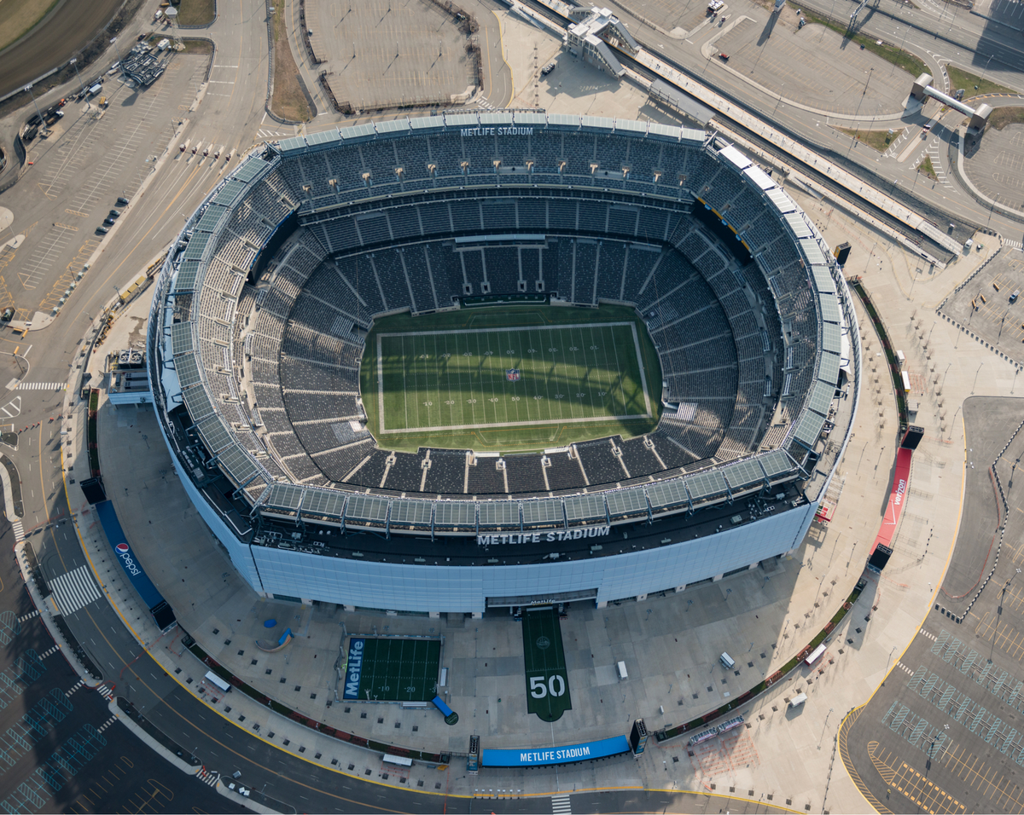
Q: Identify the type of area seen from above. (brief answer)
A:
sports ground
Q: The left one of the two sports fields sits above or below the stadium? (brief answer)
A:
below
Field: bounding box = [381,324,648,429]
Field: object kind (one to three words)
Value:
sports field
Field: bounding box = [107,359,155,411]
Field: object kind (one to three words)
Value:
building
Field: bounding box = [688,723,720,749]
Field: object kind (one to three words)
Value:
car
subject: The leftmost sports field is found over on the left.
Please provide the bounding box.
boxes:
[342,637,441,701]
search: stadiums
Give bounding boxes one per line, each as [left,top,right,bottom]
[149,107,863,619]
